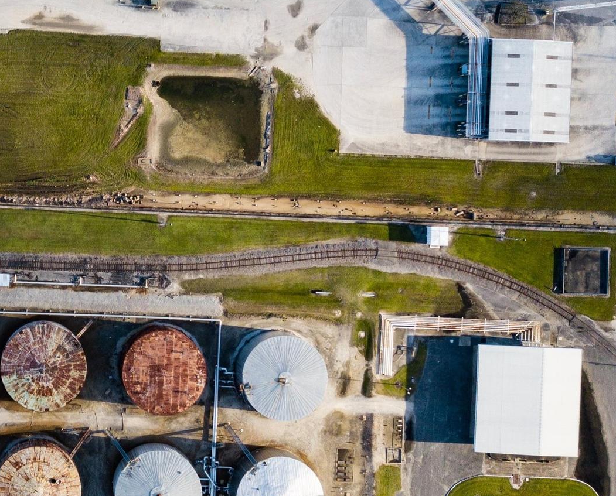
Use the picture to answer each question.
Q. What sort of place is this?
industrial area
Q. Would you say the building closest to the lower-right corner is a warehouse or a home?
warehouse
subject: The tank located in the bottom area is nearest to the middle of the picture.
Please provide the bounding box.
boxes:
[236,330,328,421]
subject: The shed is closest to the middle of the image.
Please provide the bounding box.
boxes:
[426,227,449,249]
